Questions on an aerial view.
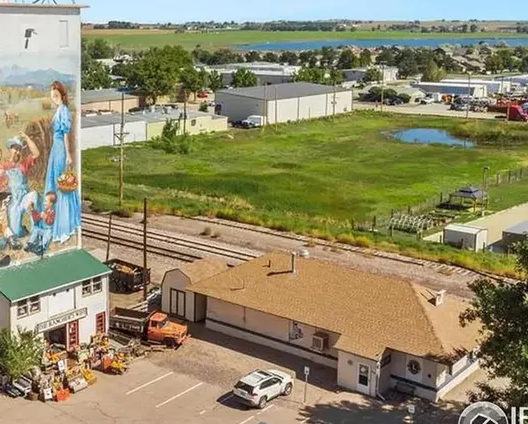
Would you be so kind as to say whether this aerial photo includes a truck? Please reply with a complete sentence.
Yes, the picture does show a truck.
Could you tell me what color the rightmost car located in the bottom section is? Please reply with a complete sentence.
From above, the rightmost car located in the bottom section appears white.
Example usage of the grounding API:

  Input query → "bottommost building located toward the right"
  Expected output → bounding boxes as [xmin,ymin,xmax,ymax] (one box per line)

[186,252,502,405]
